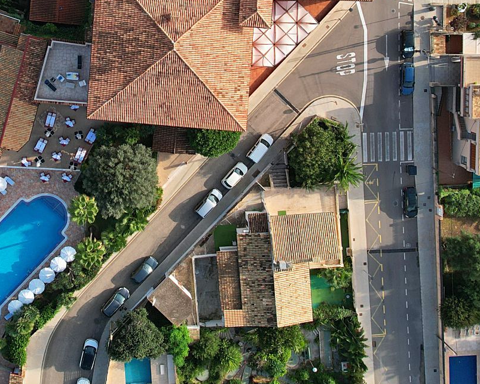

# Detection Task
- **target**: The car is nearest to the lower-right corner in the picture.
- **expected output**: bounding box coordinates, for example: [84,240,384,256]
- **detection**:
[401,187,420,218]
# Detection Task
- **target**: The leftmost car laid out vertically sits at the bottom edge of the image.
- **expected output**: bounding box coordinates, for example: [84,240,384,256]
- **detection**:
[81,337,99,372]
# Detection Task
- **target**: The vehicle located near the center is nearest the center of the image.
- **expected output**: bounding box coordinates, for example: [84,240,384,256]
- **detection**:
[222,161,248,191]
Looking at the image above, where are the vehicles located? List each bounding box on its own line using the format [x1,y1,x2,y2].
[222,161,248,191]
[102,285,130,318]
[77,377,90,384]
[81,337,99,372]
[398,63,417,97]
[246,132,274,165]
[432,18,445,29]
[195,188,223,220]
[399,30,418,62]
[131,254,159,286]
[401,187,420,218]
